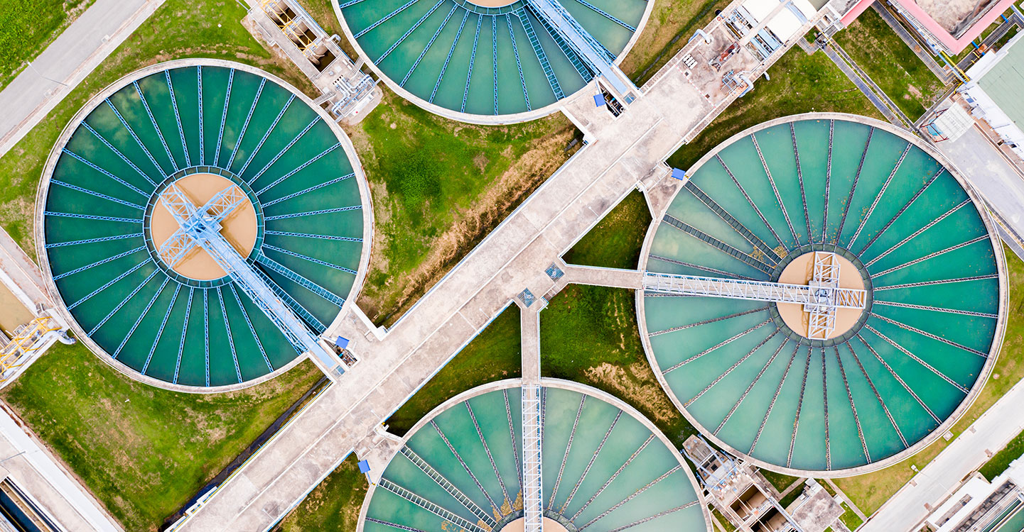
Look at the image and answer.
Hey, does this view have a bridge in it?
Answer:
Yes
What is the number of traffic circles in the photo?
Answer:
0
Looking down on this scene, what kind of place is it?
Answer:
industrial area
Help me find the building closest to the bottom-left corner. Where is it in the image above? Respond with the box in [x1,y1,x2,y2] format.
[0,404,117,532]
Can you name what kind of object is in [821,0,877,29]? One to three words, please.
building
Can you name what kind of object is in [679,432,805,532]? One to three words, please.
building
